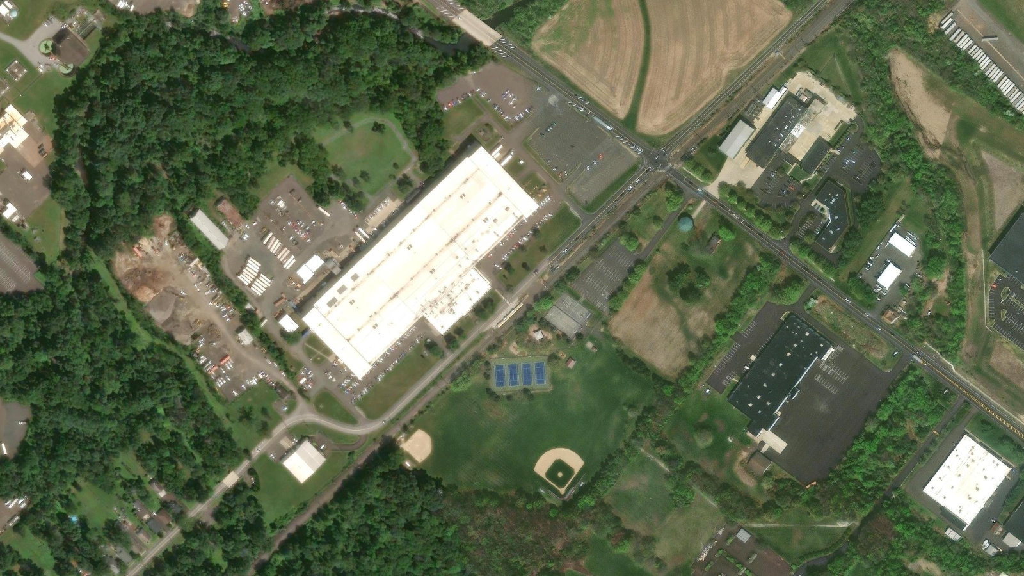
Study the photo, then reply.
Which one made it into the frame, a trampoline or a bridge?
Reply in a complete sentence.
The one in the frame is a bridge.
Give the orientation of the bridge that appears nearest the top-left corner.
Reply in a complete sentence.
The bridge that appears nearest the top-left corner is laid out on a diagonal.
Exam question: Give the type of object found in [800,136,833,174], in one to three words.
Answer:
building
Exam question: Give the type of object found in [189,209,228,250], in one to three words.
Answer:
shed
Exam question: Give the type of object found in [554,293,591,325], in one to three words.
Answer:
basketball court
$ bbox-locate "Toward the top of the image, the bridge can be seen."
[452,9,502,46]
